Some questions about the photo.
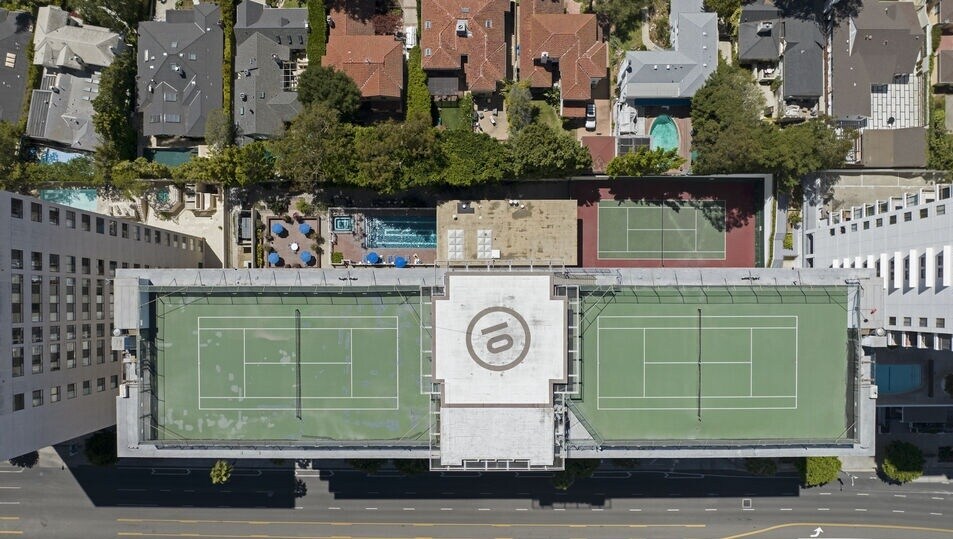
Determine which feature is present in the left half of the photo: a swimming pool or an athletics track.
swimming pool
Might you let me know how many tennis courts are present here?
three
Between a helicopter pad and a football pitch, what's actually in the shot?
helicopter pad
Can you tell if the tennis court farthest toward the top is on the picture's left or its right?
right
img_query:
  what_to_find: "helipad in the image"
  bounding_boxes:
[432,273,568,408]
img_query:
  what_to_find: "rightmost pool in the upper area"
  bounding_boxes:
[649,112,681,152]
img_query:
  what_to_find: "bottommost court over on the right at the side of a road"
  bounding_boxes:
[567,286,848,441]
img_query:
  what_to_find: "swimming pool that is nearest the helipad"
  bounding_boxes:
[364,217,436,249]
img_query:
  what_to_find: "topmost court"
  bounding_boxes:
[577,183,756,267]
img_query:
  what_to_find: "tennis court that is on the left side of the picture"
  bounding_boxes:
[148,289,433,441]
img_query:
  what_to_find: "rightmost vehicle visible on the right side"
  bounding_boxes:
[584,104,597,131]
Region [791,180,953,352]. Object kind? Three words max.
building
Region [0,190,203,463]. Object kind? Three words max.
building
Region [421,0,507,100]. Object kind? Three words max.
house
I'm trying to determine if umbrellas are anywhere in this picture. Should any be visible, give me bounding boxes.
[300,223,311,235]
[273,223,284,235]
[268,252,280,264]
[367,251,380,264]
[301,250,312,263]
[394,256,407,267]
